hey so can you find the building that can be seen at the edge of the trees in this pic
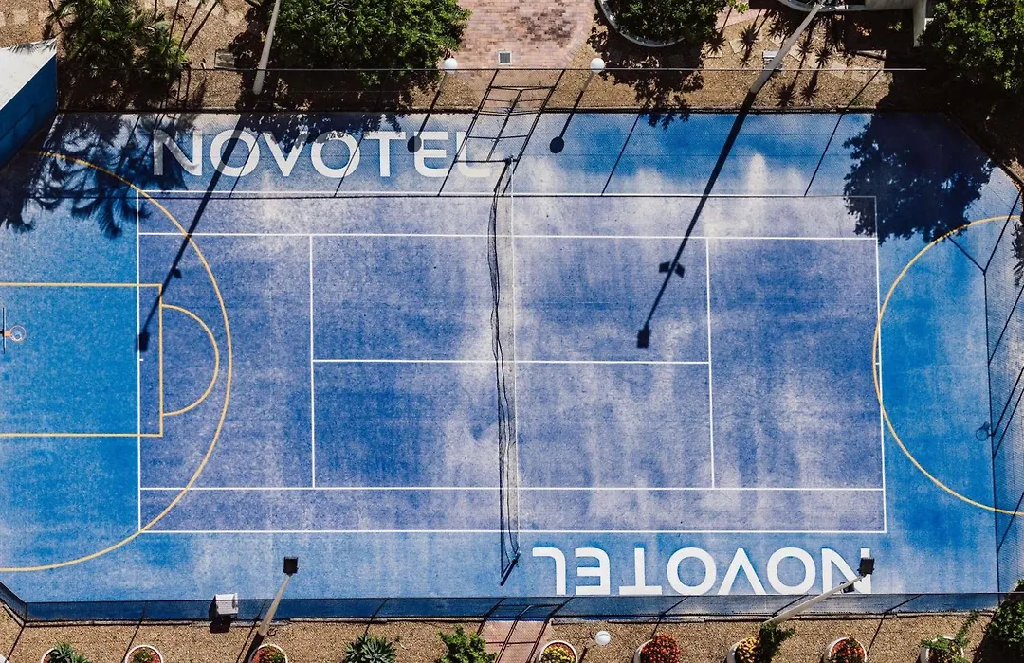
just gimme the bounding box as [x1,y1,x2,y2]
[0,36,61,169]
